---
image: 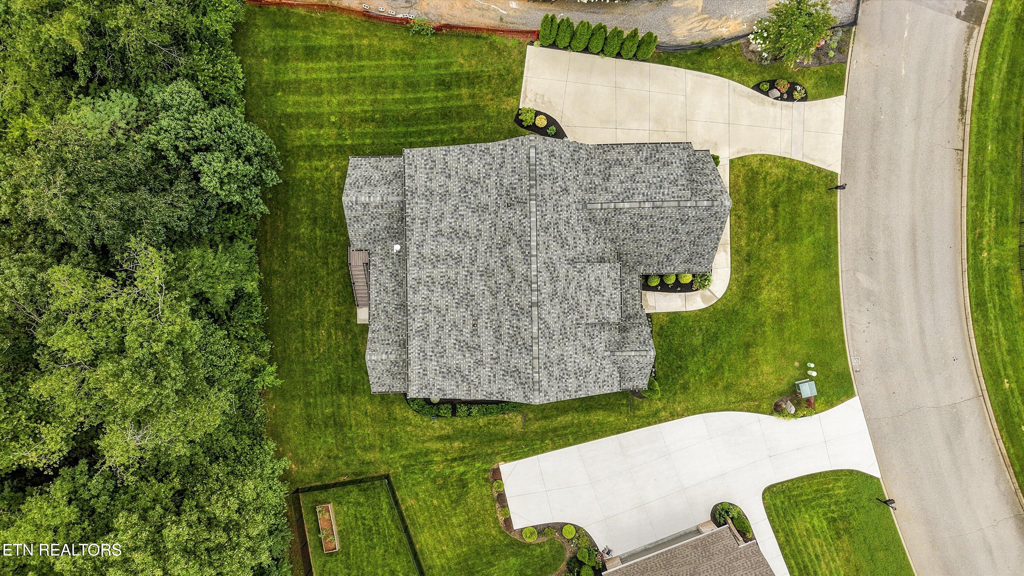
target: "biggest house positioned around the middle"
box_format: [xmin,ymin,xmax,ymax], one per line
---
[342,133,731,405]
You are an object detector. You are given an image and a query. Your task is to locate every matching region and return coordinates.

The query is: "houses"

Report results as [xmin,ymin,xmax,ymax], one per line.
[342,133,731,405]
[600,510,775,576]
